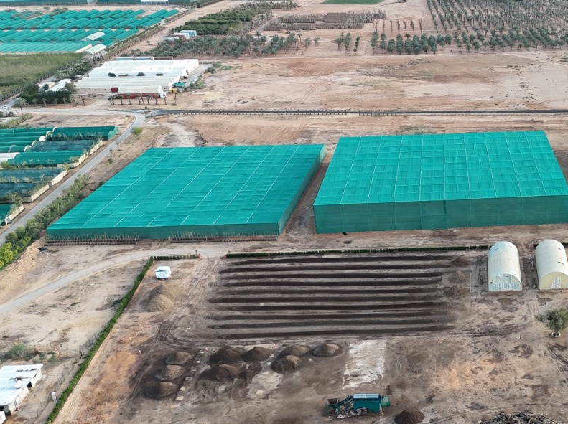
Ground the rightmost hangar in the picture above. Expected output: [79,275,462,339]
[535,236,568,289]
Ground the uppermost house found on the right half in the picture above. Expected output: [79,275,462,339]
[314,130,568,232]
